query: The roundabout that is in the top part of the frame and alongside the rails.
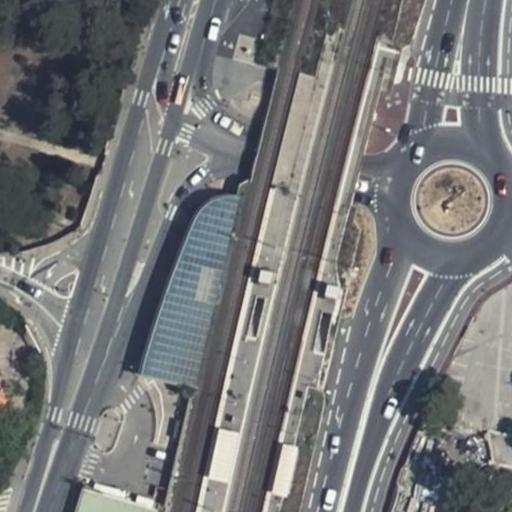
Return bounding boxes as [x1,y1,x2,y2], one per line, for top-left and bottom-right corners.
[379,127,512,273]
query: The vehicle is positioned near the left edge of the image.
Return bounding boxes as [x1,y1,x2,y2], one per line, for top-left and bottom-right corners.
[16,279,39,297]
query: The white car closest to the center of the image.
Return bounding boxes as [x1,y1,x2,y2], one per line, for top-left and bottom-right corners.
[188,168,206,186]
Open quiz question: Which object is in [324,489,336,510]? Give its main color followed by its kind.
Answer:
white vehicle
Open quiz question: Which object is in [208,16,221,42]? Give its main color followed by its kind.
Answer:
white vehicle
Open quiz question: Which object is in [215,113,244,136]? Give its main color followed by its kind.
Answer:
white truck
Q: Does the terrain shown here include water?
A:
No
